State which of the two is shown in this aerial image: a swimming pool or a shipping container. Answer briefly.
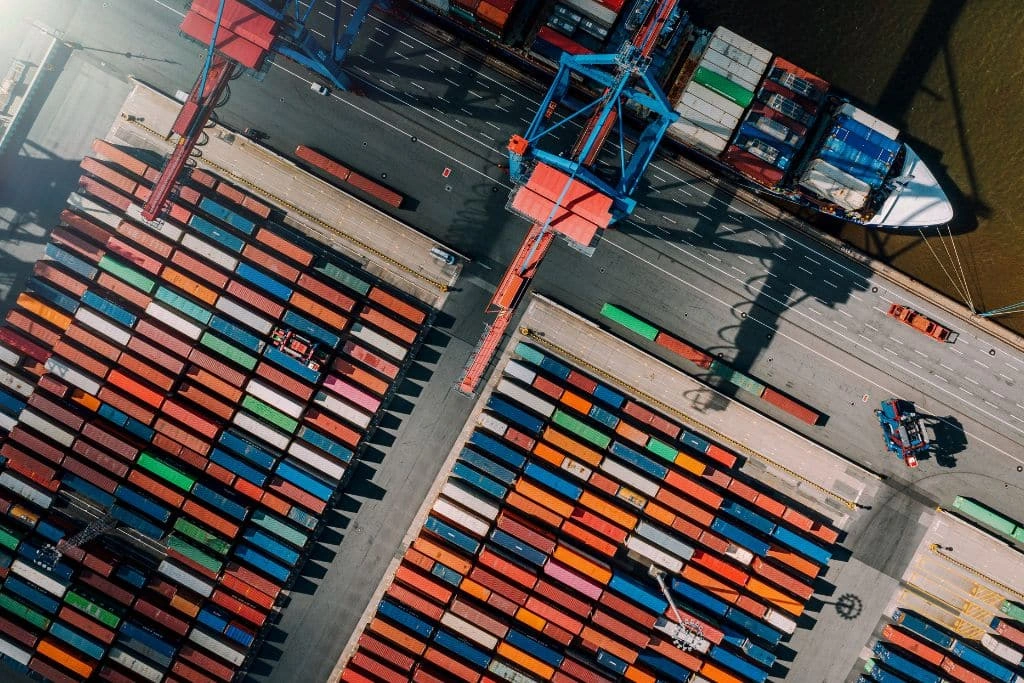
shipping container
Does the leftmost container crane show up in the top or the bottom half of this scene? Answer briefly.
top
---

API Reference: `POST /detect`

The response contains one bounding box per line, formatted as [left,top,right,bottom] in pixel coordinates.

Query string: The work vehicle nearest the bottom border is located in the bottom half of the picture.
[877,398,938,466]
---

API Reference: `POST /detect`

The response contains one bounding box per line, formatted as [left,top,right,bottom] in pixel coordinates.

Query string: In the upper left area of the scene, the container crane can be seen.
[135,0,417,230]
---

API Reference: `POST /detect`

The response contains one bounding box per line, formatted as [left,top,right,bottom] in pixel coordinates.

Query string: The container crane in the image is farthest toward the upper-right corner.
[453,0,695,398]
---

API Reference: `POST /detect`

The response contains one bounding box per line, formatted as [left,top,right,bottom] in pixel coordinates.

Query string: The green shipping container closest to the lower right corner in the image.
[996,597,1024,623]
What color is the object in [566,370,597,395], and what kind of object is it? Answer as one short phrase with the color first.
red shipping container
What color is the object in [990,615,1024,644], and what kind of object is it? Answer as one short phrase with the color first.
red shipping container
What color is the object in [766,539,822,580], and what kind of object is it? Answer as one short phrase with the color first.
orange shipping container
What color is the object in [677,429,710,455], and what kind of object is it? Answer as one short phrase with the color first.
blue shipping container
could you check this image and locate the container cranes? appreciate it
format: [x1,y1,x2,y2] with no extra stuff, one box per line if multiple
[135,0,417,230]
[453,0,695,398]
